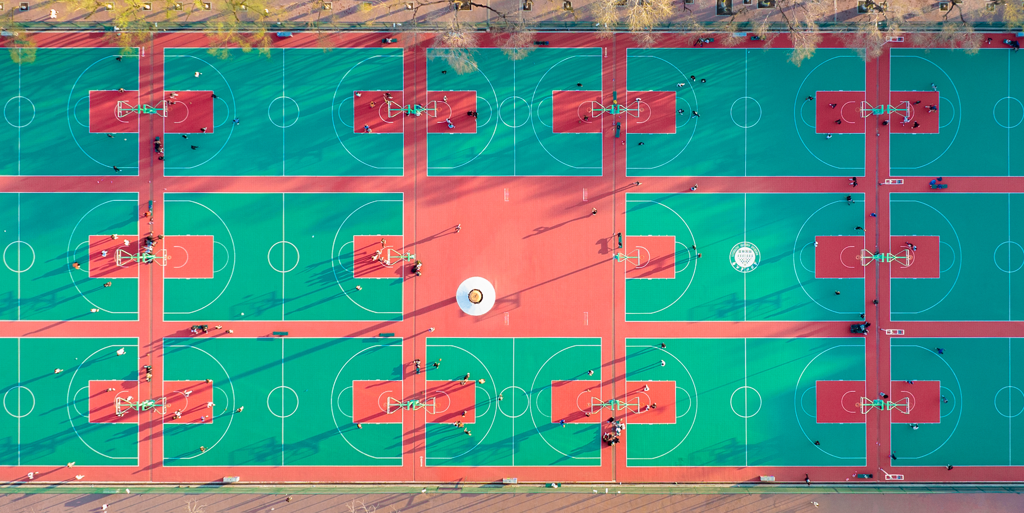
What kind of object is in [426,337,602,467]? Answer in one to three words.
basketball court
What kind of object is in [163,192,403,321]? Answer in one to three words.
basketball court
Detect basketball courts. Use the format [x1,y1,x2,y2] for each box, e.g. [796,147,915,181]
[890,47,1024,176]
[427,47,602,176]
[890,192,1024,321]
[626,192,865,321]
[626,47,866,176]
[0,47,139,176]
[890,337,1024,467]
[163,192,403,321]
[426,337,602,467]
[0,337,139,467]
[163,337,403,467]
[164,47,404,176]
[0,192,139,321]
[626,337,866,467]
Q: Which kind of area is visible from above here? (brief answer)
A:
sports ground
